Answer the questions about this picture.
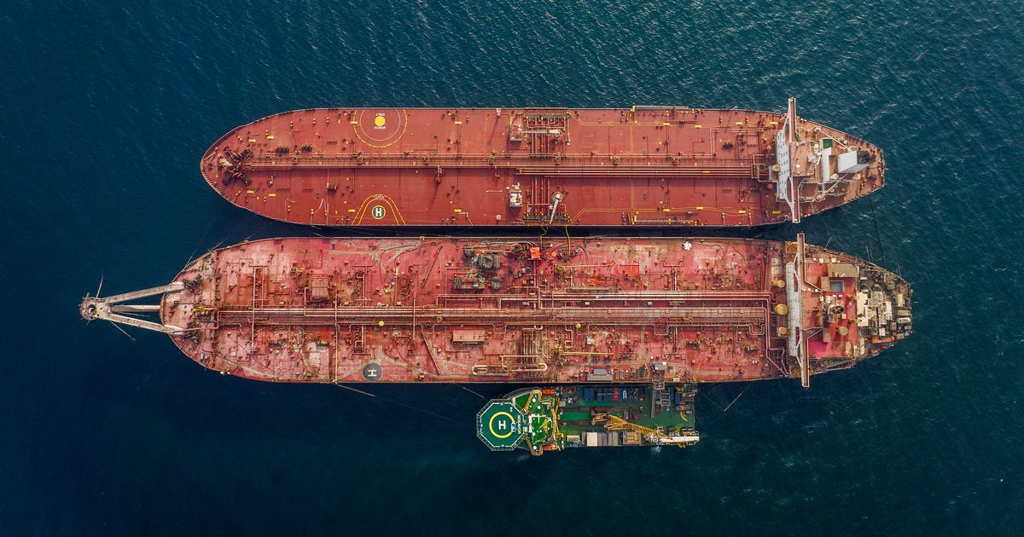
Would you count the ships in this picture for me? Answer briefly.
3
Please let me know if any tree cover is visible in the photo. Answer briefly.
No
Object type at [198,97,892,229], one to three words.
ship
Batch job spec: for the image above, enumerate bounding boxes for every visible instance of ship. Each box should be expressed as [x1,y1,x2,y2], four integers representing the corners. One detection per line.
[198,97,892,229]
[476,383,699,455]
[77,231,916,411]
